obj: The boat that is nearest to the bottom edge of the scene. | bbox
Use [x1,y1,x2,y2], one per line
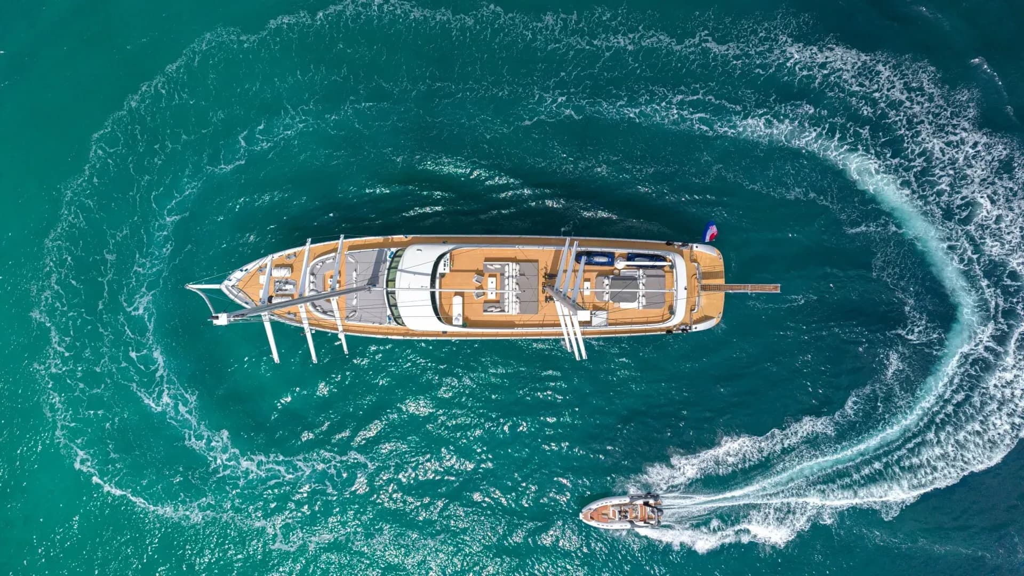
[580,492,665,529]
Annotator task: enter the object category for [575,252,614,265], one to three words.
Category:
boat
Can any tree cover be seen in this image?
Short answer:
No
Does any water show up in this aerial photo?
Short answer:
Yes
